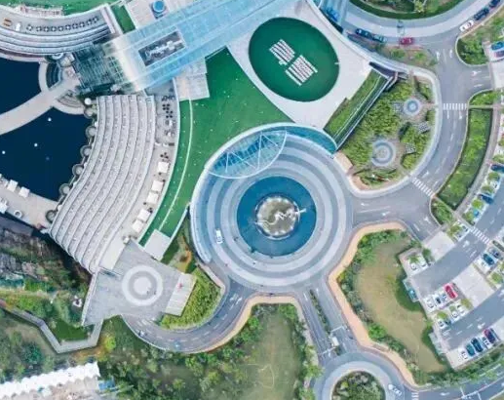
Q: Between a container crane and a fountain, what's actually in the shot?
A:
fountain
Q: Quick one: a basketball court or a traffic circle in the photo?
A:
traffic circle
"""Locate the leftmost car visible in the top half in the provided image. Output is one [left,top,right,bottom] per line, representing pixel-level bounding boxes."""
[328,6,340,21]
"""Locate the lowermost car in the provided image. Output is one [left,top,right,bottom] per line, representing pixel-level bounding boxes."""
[389,385,404,397]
